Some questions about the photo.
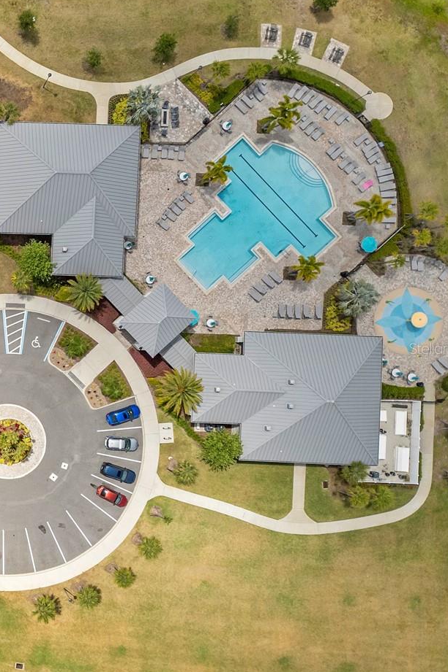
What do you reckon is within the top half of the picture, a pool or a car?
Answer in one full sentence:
What appears within the top half of the picture is a pool.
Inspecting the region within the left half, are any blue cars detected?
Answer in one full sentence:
Yes, the scene does show a blue car within the left half.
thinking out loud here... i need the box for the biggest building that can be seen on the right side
[191,333,382,464]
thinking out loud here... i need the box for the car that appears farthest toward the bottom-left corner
[95,484,128,508]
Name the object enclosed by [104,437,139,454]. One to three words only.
car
